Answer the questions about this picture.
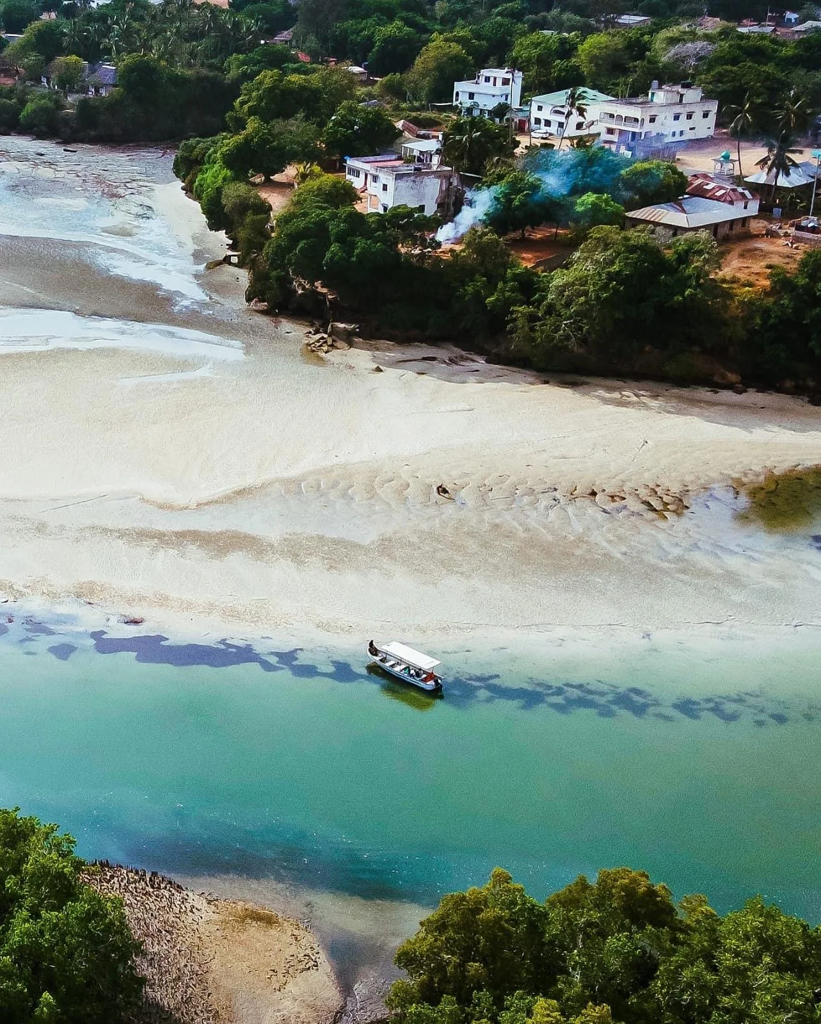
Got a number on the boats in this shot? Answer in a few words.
1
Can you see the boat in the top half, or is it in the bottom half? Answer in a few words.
bottom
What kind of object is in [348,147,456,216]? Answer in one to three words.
house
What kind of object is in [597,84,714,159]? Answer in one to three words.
house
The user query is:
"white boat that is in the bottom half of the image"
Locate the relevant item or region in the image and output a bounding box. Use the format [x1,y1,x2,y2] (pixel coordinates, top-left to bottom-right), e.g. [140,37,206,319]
[365,641,440,692]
